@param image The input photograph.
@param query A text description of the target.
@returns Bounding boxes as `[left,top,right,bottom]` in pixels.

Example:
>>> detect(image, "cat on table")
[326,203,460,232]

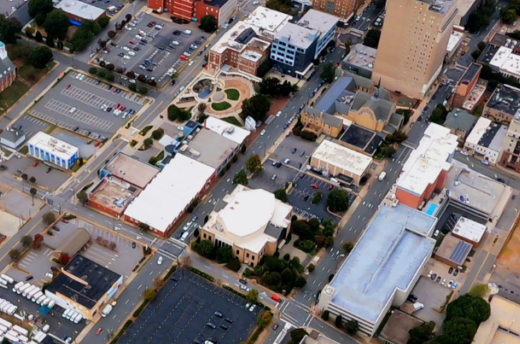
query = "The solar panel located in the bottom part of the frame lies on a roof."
[450,242,471,265]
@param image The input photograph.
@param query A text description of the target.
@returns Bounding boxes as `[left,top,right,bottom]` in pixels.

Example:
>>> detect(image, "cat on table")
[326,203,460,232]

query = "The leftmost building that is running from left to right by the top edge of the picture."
[54,0,105,24]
